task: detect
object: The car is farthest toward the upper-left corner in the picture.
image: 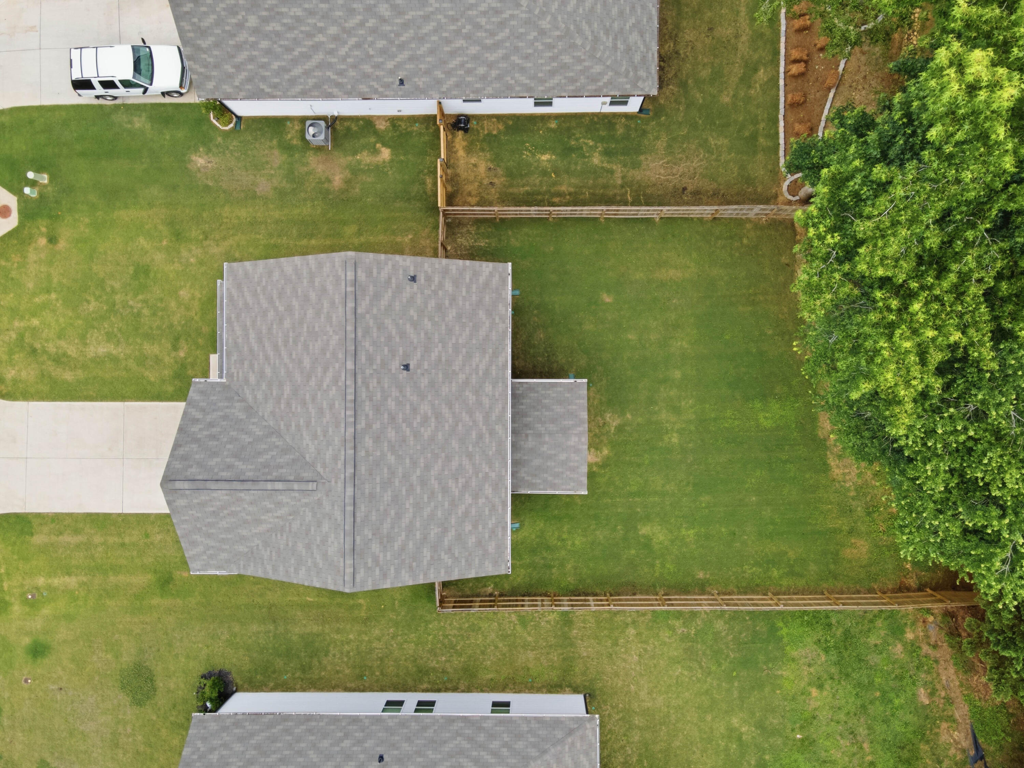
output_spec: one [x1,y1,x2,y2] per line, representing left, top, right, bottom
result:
[69,38,194,102]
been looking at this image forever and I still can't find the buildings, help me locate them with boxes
[181,688,599,768]
[162,252,588,593]
[171,0,659,118]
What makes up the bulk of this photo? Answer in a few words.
grass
